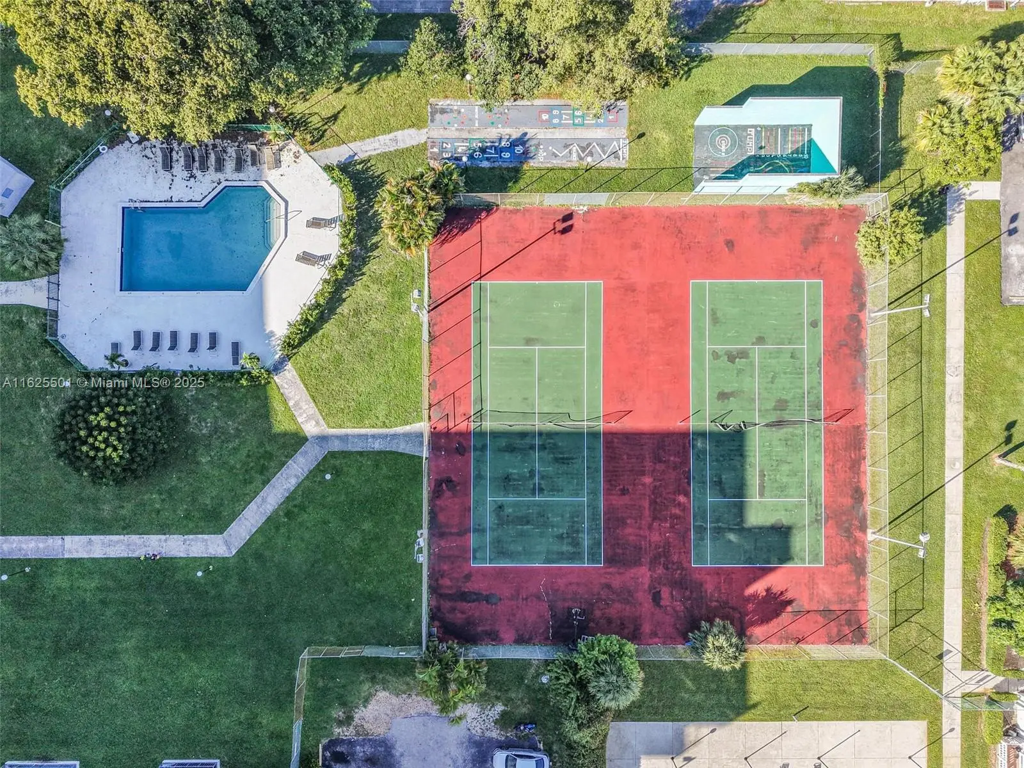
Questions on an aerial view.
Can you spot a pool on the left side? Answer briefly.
Yes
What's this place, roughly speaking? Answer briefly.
sports ground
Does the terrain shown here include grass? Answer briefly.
Yes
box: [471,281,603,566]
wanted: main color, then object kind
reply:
green tennis court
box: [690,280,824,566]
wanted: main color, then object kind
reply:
green tennis court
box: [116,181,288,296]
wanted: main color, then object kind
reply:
blue swimming pool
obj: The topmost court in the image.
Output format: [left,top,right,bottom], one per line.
[694,94,843,193]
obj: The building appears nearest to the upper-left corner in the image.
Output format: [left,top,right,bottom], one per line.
[0,157,38,217]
